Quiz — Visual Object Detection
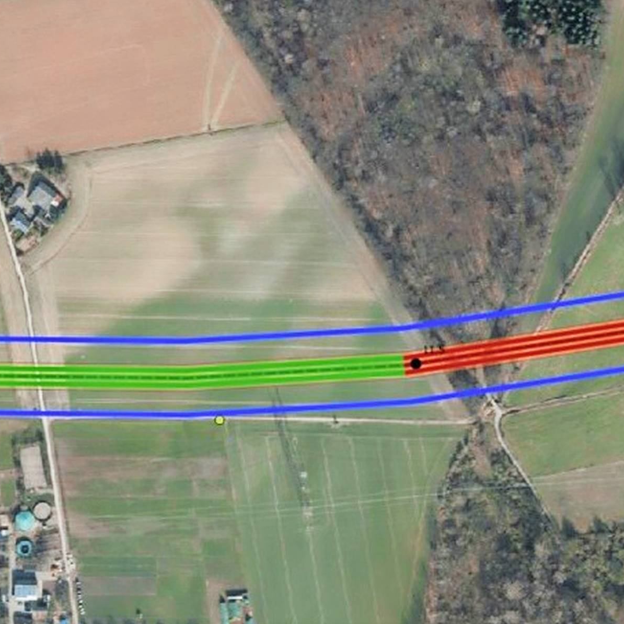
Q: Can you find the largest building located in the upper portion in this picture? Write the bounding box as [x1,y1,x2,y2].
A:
[26,179,57,211]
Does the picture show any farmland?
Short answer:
Yes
